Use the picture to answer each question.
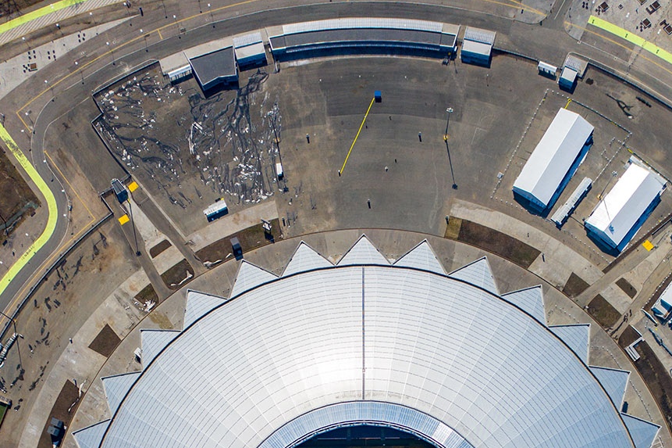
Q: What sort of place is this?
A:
sports ground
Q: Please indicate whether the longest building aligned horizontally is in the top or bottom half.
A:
top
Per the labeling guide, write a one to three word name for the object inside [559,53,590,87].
building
